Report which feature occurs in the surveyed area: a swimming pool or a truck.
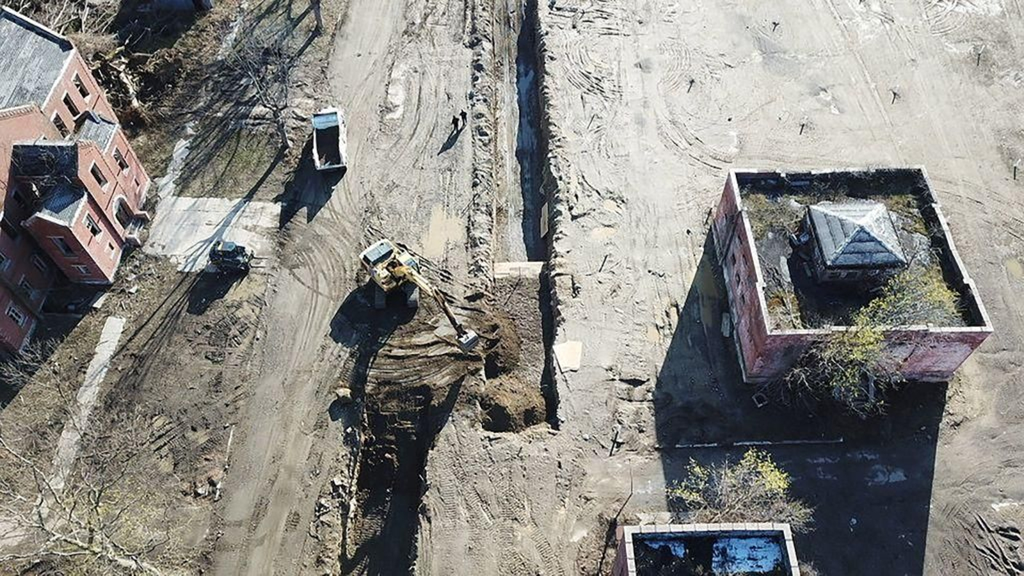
truck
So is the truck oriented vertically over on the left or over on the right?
left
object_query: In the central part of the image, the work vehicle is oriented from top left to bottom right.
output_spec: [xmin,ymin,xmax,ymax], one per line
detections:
[357,237,481,353]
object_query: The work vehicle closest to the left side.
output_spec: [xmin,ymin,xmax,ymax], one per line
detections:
[204,239,271,276]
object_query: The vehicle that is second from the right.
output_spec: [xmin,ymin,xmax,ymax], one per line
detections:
[308,105,347,179]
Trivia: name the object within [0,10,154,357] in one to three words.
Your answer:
building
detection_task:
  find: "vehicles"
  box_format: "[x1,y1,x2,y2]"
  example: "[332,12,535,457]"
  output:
[204,239,271,276]
[308,105,347,179]
[357,237,481,353]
